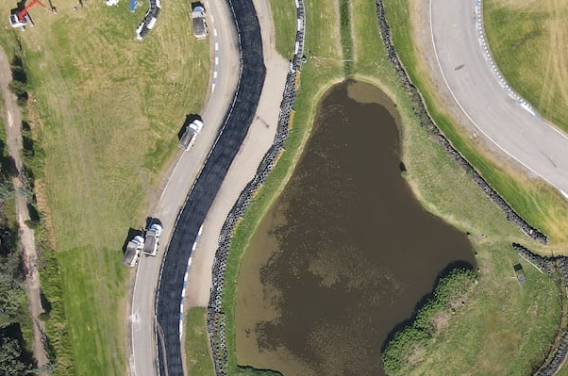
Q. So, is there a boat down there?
No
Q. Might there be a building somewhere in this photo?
No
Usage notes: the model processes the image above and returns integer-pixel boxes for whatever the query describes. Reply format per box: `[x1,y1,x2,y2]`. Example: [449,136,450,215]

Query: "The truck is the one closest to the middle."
[174,116,203,150]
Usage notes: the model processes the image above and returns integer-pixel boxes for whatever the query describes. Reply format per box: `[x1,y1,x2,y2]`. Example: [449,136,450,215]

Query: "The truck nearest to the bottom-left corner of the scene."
[119,233,143,268]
